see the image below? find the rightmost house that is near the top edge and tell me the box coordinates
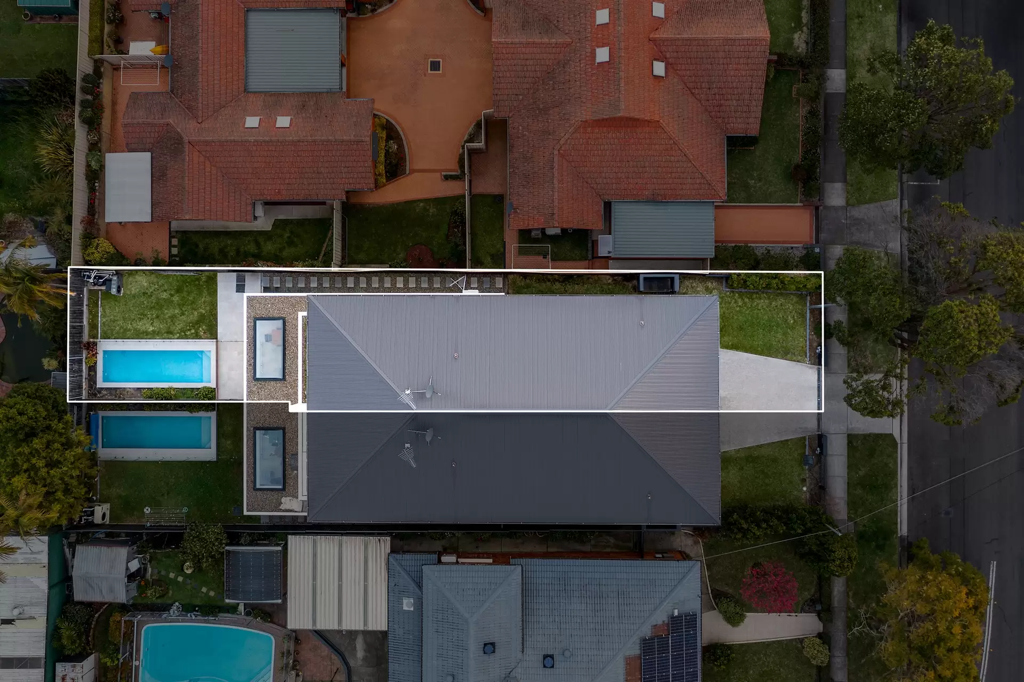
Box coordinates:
[492,0,770,231]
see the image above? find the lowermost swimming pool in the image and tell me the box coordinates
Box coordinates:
[138,621,275,682]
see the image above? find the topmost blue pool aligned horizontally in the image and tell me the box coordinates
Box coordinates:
[98,340,217,388]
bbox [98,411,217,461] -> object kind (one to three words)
swimming pool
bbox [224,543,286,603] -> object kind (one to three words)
shed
